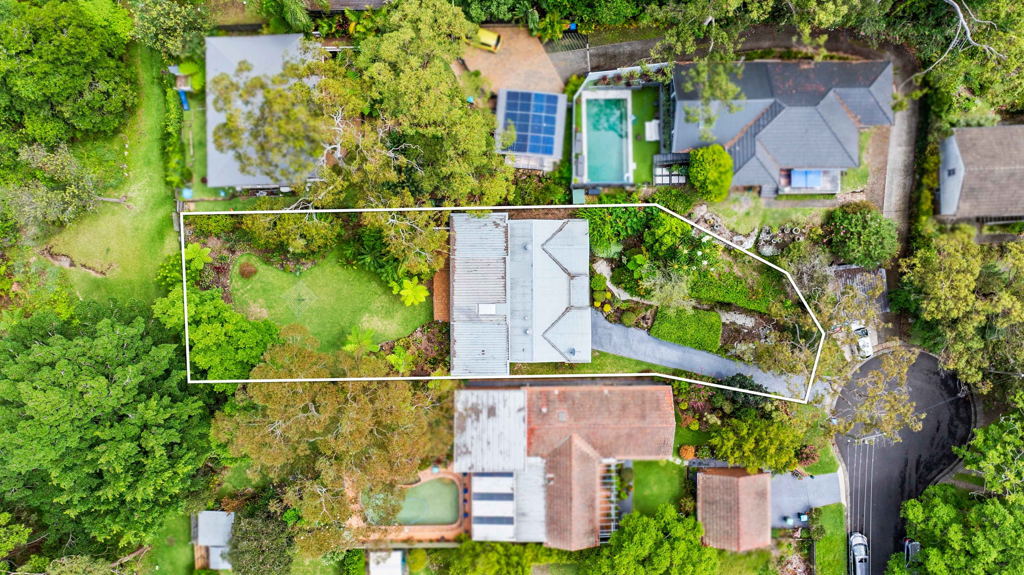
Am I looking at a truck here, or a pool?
pool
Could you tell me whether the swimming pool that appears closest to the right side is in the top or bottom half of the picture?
top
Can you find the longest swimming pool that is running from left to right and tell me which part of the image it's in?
bottom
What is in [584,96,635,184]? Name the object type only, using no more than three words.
swimming pool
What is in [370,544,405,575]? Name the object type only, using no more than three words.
shed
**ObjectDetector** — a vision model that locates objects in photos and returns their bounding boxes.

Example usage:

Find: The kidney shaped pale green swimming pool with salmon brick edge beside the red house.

[358,476,461,528]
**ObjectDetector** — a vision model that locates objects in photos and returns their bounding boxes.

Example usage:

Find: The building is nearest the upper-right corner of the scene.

[936,126,1024,221]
